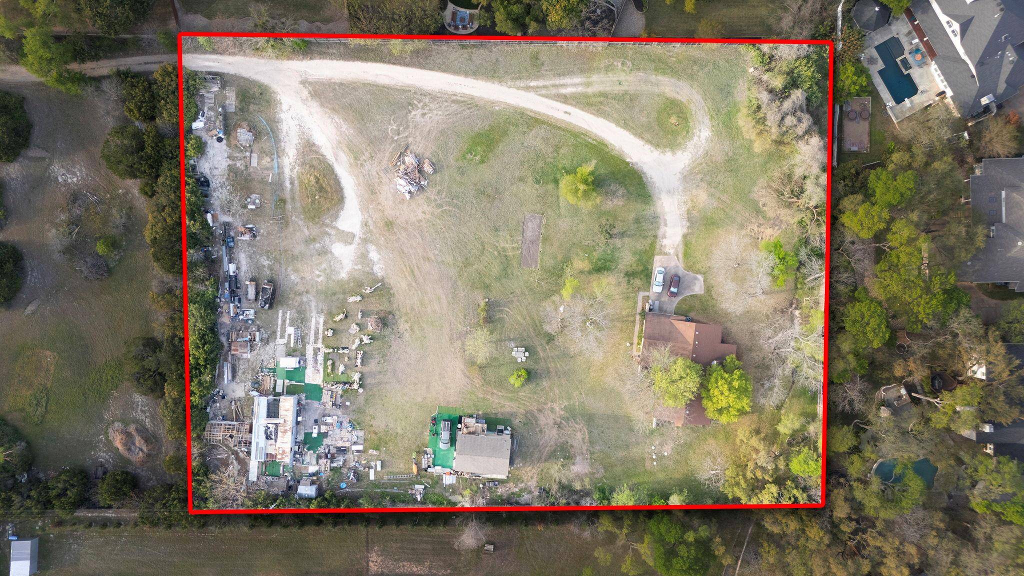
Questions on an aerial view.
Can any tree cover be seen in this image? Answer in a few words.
Yes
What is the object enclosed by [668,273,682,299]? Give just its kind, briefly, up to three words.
car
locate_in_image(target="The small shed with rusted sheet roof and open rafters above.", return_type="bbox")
[225,331,259,358]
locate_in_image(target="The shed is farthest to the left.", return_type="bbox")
[11,532,49,576]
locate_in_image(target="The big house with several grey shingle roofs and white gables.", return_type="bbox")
[896,0,1024,121]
